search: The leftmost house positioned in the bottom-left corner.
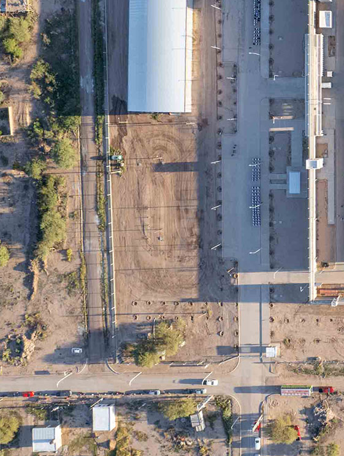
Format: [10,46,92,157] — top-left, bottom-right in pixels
[32,422,61,451]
